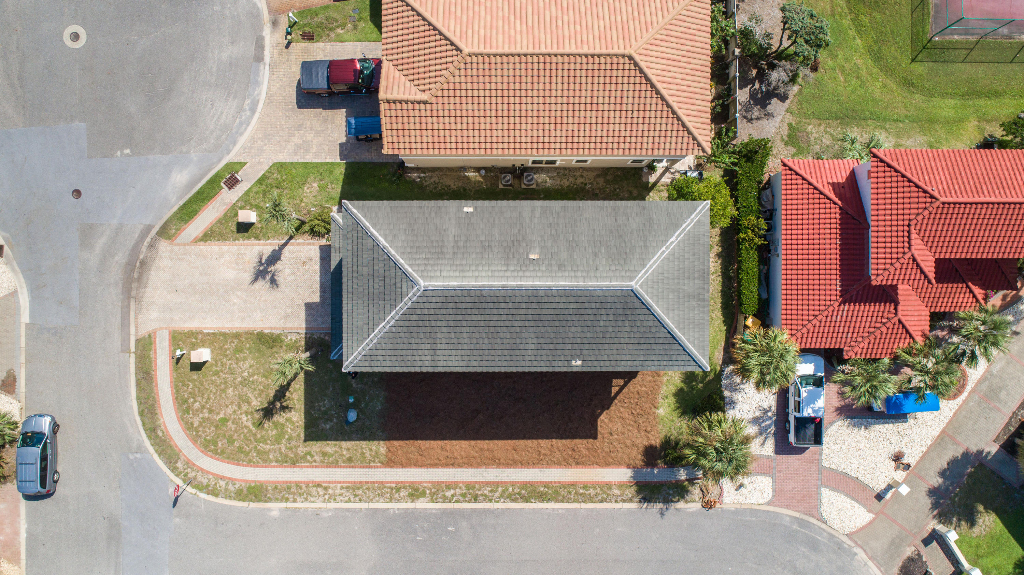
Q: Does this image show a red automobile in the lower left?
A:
No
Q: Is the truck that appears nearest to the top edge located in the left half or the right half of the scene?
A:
left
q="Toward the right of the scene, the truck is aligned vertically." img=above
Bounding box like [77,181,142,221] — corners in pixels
[784,353,828,446]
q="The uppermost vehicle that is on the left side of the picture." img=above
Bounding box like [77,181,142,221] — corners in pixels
[300,53,380,97]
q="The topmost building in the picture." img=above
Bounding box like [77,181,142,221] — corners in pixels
[375,0,713,174]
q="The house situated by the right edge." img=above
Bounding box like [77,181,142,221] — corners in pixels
[767,146,1024,360]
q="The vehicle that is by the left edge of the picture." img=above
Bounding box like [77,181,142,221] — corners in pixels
[13,412,63,496]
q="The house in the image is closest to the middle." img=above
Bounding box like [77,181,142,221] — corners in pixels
[329,198,712,374]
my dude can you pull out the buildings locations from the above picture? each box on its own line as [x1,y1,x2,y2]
[329,198,712,374]
[767,146,1024,360]
[375,0,713,174]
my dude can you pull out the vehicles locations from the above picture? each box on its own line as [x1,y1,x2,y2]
[865,388,940,415]
[784,353,828,446]
[13,412,63,496]
[346,115,380,143]
[300,53,380,97]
